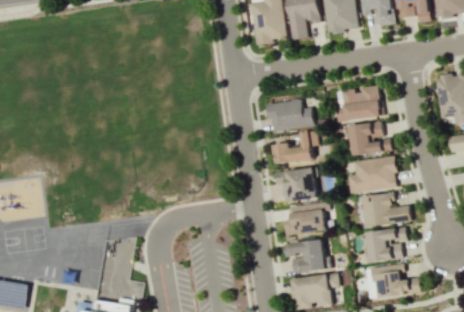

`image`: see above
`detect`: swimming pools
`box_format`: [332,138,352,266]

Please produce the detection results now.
[354,236,364,254]
[324,176,334,192]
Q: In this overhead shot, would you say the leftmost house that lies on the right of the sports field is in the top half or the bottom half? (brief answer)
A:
top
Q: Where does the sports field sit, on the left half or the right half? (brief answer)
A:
left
